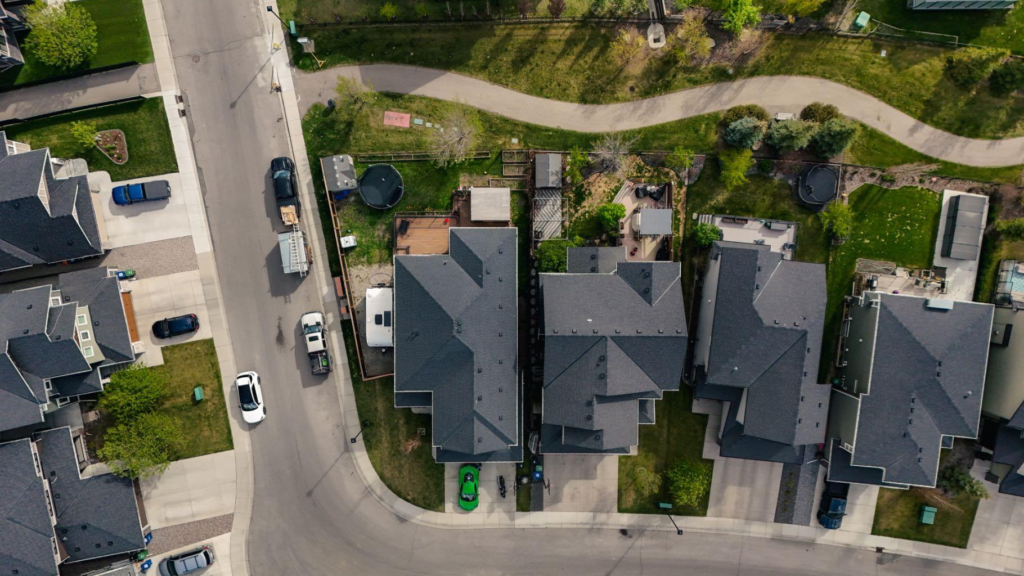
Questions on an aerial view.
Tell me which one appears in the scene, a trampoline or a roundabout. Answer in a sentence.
This aerial view contains a trampoline.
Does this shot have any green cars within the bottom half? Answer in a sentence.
Yes, a green car is visible within the bottom half.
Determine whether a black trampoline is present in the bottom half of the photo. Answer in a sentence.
No, the scene shows no black trampoline in the bottom half of the photo.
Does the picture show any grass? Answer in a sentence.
Yes, grass shows up in the scene.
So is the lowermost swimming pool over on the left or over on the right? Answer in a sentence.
The lowermost swimming pool appears in the right half of the scene.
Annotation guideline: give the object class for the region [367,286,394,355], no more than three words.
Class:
trailer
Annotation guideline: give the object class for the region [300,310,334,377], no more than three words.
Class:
truck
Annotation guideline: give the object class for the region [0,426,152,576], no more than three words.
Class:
house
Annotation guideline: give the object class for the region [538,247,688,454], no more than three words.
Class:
house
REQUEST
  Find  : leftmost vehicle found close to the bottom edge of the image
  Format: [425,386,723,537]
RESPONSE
[159,545,218,576]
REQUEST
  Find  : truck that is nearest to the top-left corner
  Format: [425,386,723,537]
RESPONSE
[109,179,175,207]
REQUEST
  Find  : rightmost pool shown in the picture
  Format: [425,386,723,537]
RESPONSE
[994,260,1024,295]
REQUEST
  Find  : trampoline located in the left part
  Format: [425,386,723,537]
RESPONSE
[357,163,404,210]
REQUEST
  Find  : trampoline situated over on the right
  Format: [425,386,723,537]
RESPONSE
[799,160,845,206]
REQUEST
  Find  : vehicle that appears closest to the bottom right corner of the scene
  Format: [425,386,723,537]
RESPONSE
[817,473,850,532]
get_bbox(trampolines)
[799,160,845,206]
[357,163,404,210]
